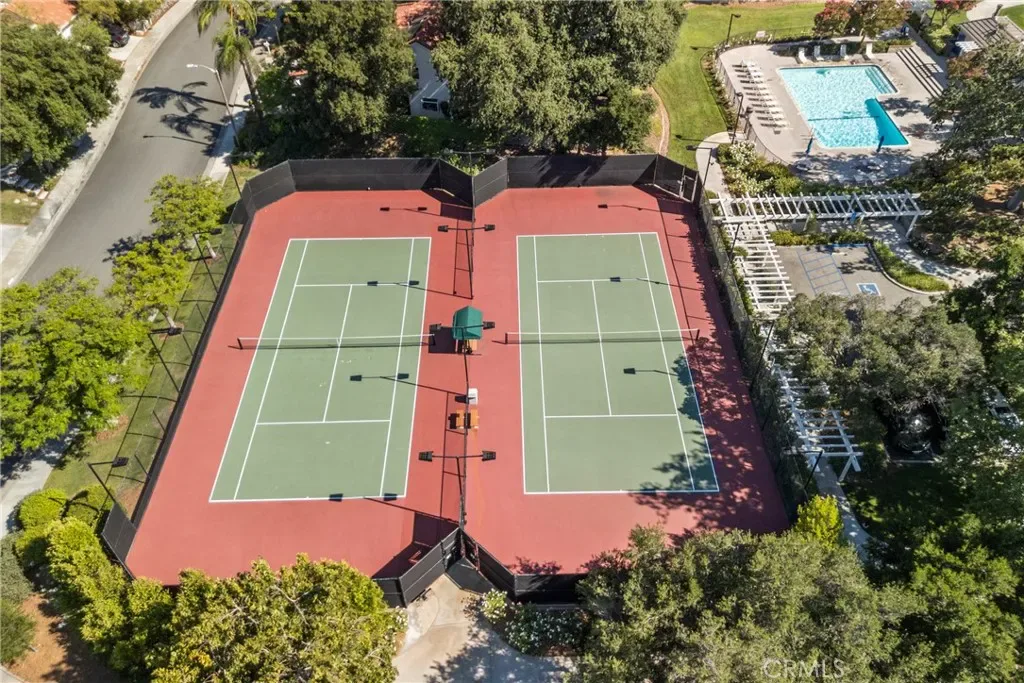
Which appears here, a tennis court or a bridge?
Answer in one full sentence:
There is a tennis court in the scene.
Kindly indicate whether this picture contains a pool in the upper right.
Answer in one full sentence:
Yes, the scene does show a pool in the upper right.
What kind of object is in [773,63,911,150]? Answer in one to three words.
swimming pool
